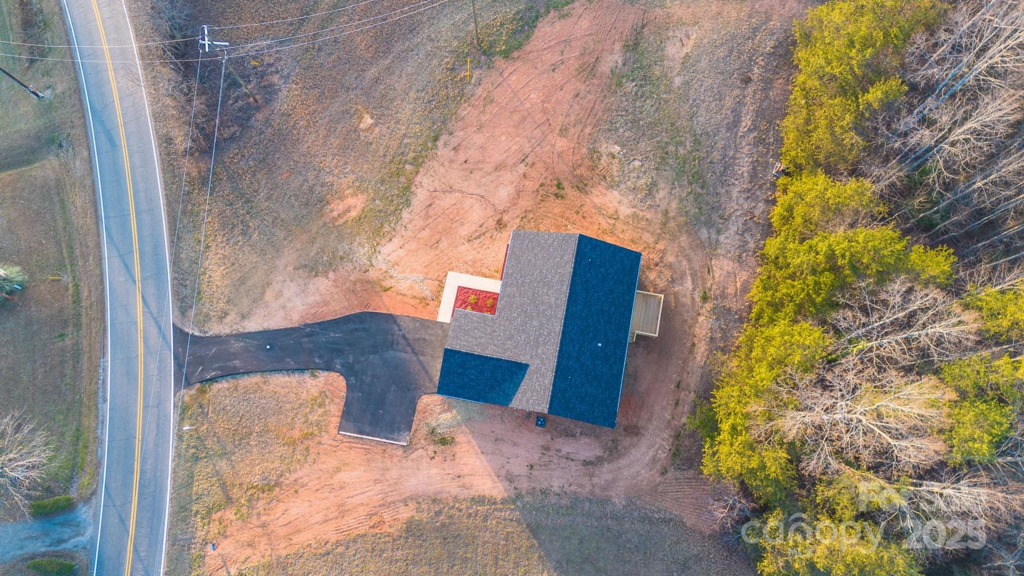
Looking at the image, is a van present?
No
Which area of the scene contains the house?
center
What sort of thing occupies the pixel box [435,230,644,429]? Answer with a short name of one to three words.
house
